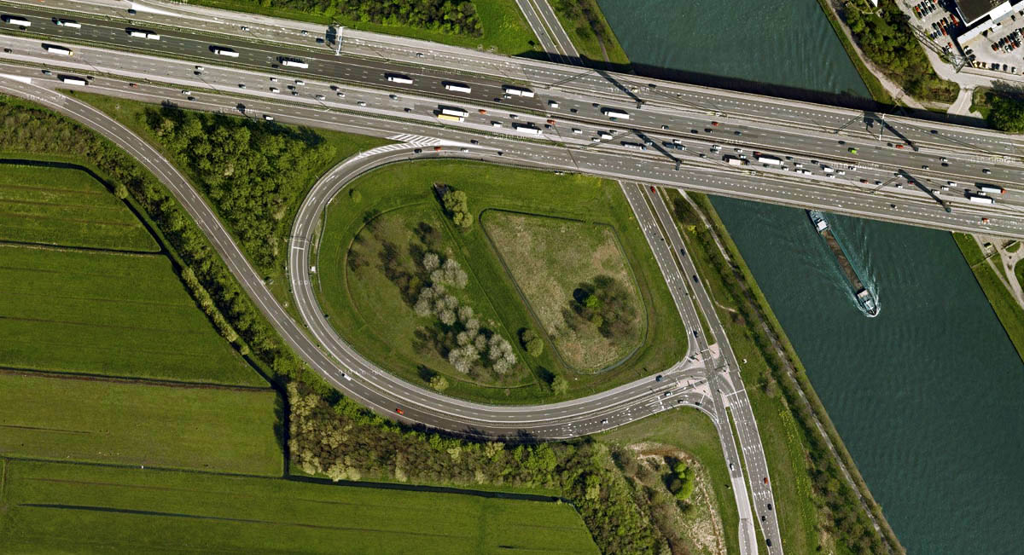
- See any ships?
Yes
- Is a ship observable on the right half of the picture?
Yes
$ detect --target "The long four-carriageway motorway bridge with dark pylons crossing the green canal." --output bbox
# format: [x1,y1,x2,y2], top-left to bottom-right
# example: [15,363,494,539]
[509,53,1024,243]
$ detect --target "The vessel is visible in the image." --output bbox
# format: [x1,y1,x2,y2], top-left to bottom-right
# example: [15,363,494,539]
[807,213,876,318]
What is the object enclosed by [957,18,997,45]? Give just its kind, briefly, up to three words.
building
